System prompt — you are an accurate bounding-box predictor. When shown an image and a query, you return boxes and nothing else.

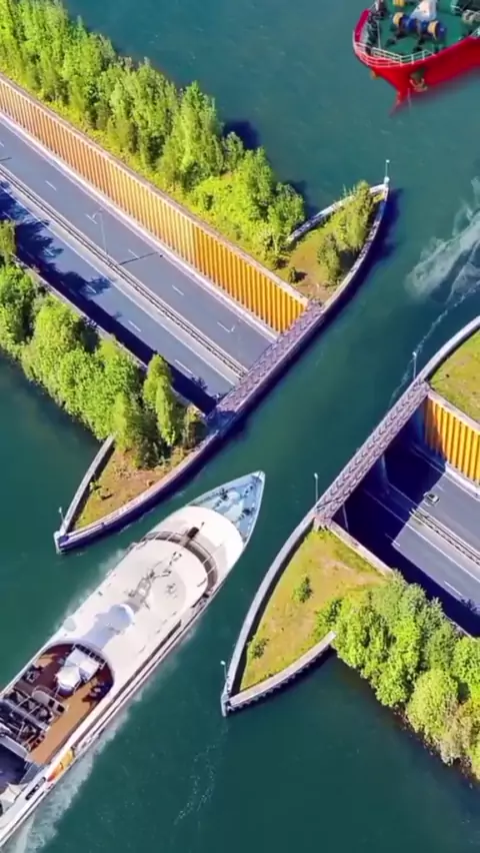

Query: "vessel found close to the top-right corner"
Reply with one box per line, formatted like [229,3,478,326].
[348,0,480,93]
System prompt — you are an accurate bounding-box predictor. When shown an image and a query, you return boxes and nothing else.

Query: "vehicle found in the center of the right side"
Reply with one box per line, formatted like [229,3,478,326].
[423,489,442,505]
